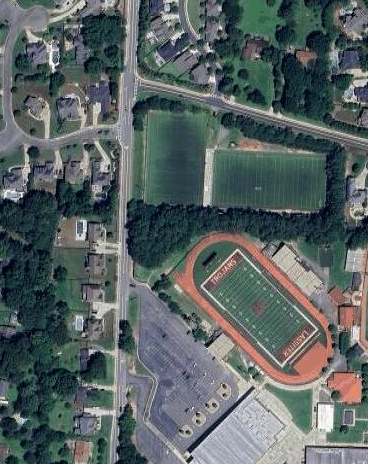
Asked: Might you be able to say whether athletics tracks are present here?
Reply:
Yes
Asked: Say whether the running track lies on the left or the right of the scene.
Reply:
right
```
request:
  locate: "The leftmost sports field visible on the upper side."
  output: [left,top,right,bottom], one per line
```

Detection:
[144,112,206,205]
